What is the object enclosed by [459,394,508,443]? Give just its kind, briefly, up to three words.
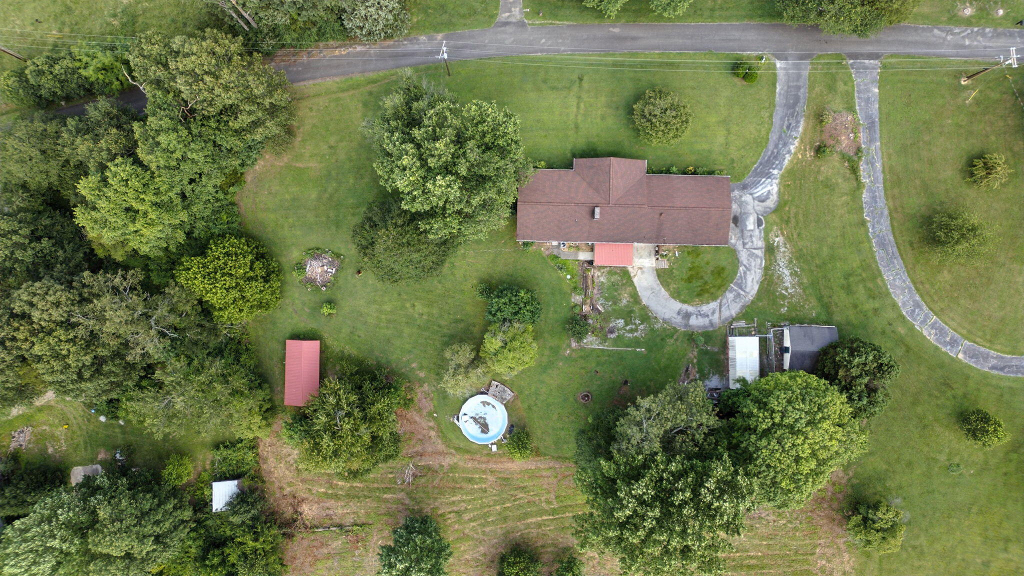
swimming pool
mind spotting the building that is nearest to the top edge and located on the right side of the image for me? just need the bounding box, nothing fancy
[516,158,731,266]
